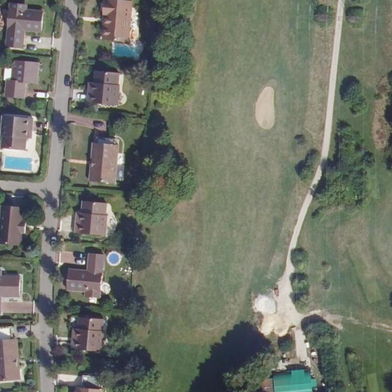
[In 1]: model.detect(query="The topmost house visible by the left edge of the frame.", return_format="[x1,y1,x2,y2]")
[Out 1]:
[6,2,44,50]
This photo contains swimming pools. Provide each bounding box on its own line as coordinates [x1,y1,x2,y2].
[107,252,124,266]
[113,43,142,60]
[4,156,33,172]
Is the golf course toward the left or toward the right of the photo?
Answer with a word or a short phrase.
right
